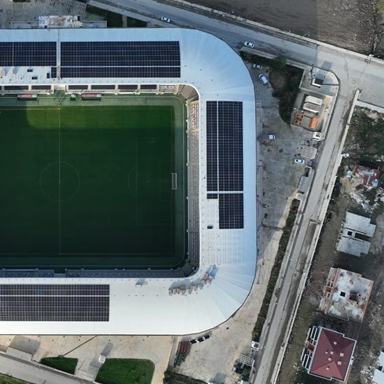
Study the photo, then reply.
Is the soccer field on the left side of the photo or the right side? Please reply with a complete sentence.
The soccer field sits on the left side.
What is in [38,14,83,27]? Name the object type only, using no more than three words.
building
